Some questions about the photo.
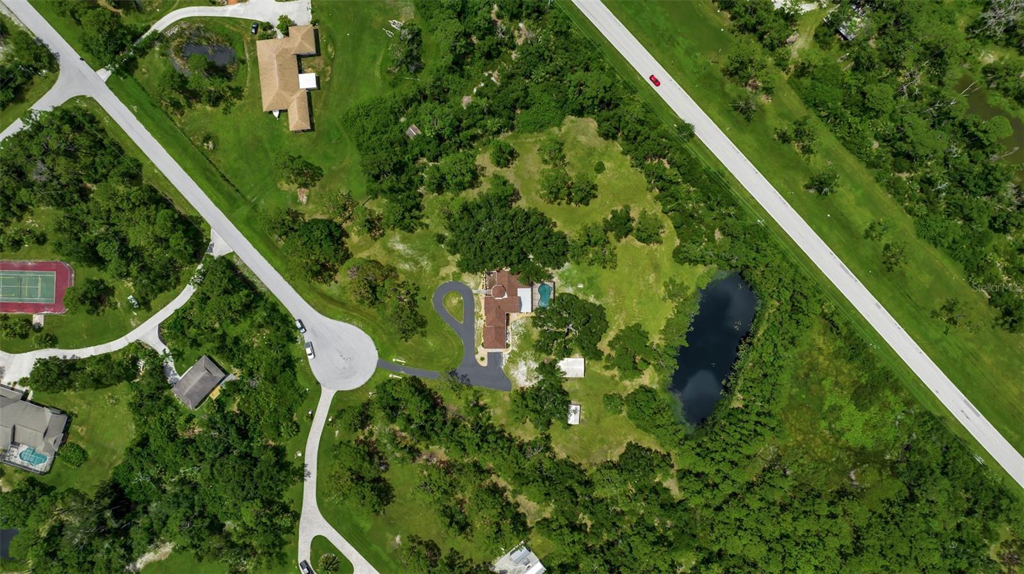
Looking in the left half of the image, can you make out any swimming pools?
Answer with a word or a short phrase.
Yes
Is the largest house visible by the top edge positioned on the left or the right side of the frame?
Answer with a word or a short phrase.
left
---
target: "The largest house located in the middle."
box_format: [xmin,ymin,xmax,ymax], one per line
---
[483,270,532,349]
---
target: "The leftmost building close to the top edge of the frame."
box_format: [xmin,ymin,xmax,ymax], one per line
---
[256,24,318,131]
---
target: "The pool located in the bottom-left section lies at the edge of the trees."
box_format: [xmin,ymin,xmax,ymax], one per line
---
[0,440,55,476]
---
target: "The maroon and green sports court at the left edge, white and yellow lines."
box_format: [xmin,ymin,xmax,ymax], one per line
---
[0,261,74,314]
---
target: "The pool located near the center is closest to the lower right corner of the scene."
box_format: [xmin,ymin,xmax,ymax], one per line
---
[532,282,554,315]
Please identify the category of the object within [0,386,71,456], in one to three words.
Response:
house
